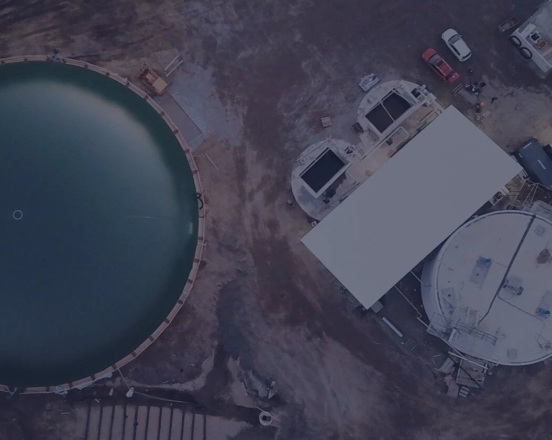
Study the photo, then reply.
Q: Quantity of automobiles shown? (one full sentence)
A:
Altogether the scene contains 2 automobiles.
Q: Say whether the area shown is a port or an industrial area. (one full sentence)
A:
This image shows an industrial area.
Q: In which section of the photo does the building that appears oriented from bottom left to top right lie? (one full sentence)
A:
The building that appears oriented from bottom left to top right is in the right part of the image.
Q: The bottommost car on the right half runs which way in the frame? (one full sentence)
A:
Seen from above, the bottommost car on the right half lies at an angle.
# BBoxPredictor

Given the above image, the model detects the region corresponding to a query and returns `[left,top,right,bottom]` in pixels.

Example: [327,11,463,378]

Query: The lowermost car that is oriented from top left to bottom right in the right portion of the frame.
[419,47,461,87]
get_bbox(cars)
[437,27,475,66]
[419,47,461,87]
